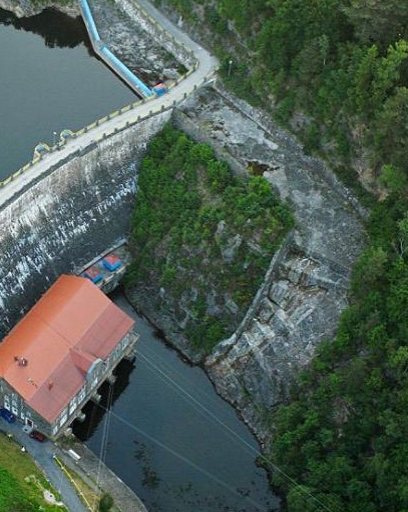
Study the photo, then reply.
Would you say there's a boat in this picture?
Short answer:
No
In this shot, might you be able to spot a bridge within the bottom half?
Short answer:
No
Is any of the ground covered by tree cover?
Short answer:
Yes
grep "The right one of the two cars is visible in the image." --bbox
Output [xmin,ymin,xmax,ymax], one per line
[28,426,48,443]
